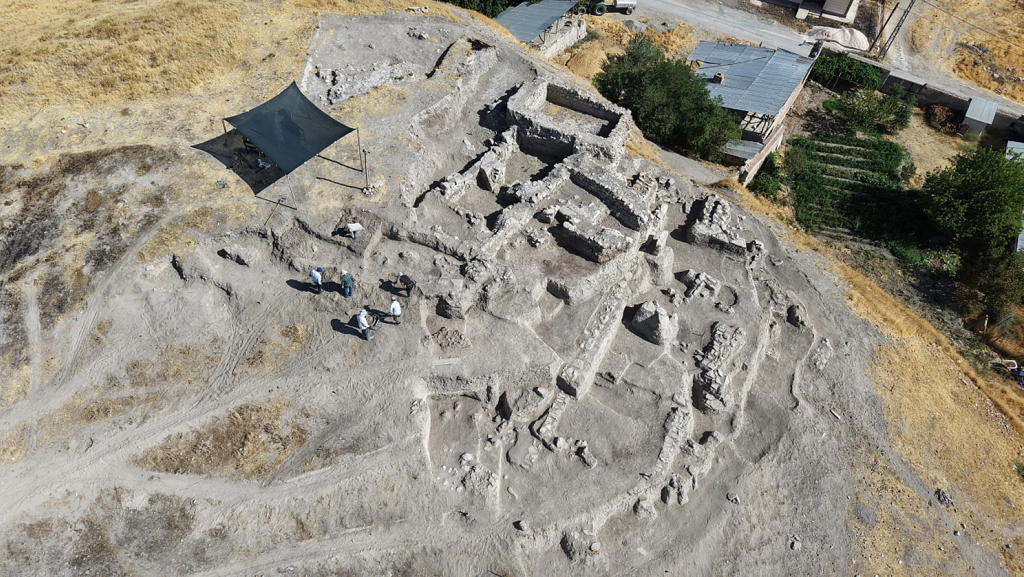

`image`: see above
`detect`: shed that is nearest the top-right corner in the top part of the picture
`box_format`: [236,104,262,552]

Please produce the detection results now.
[955,98,998,139]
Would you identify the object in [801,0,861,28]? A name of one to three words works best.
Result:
house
